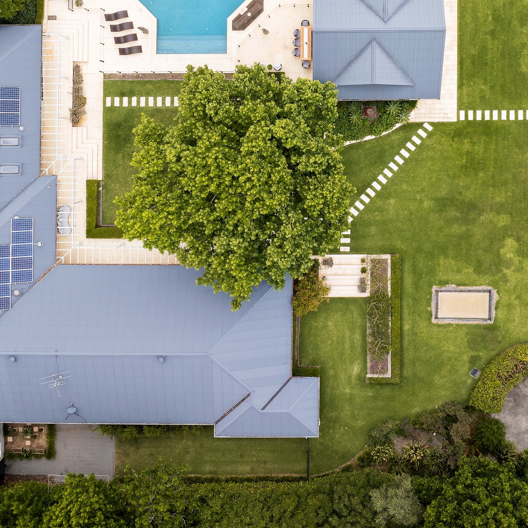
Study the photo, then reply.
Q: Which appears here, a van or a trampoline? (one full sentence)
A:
Looking from above, you can make out a trampoline.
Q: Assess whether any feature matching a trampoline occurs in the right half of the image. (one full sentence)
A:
Yes, a trampoline shows up in the right half of the image.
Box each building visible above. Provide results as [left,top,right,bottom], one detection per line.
[312,0,448,101]
[0,23,322,480]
